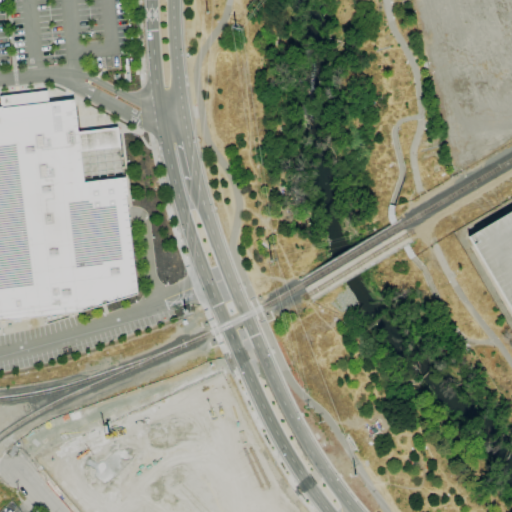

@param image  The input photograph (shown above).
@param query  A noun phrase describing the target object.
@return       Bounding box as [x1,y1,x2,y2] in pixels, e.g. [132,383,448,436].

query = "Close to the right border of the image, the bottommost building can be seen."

[469,211,512,311]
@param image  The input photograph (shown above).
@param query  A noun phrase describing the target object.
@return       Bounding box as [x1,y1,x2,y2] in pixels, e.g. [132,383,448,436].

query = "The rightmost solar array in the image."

[70,202,123,265]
